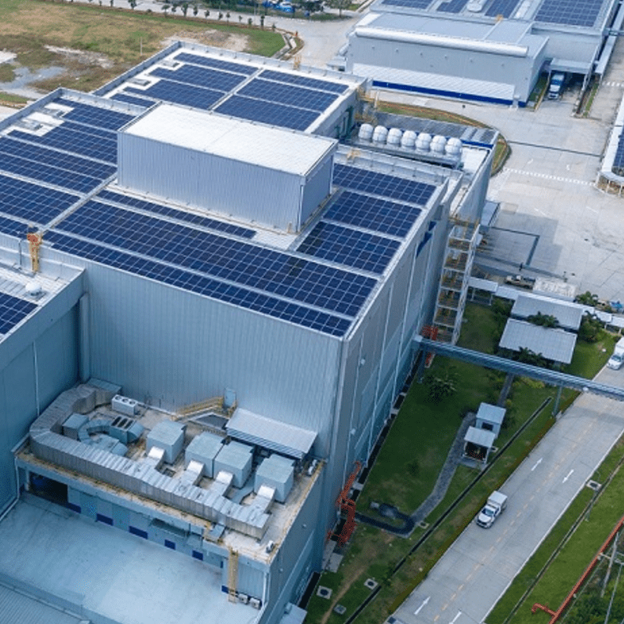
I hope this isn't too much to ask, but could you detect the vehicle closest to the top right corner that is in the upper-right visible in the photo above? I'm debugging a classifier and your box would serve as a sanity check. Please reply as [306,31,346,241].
[551,69,569,95]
